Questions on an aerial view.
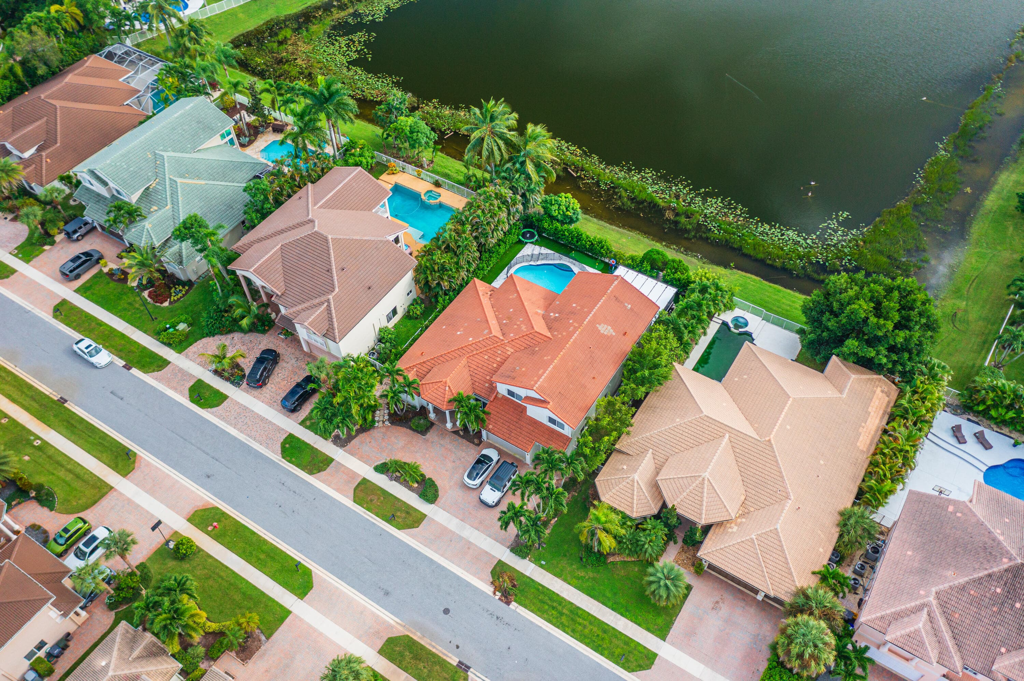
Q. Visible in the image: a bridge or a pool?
pool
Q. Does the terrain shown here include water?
Yes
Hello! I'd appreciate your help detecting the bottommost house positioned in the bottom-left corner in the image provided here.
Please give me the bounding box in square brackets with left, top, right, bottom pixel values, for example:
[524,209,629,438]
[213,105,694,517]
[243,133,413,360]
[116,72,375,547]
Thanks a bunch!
[67,619,185,681]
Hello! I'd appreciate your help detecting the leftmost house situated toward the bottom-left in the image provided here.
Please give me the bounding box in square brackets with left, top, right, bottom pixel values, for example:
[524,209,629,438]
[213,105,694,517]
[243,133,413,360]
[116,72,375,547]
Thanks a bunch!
[0,529,92,681]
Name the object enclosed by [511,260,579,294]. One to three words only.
swimming pool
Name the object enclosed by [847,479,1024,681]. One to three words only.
house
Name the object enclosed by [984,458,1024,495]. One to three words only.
swimming pool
